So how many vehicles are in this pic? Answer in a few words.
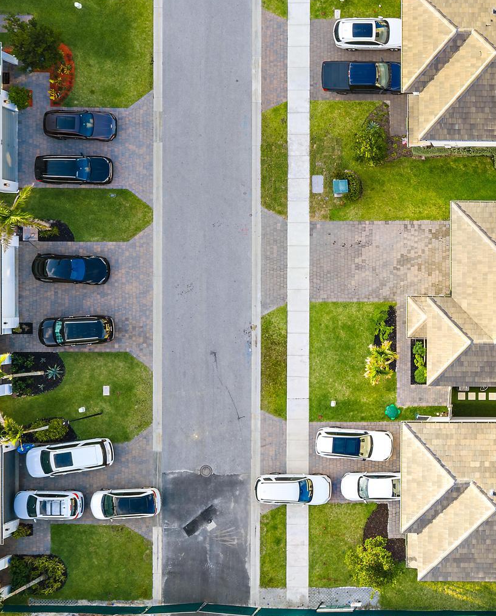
12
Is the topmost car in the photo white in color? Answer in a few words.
Yes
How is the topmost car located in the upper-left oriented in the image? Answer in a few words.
from left to right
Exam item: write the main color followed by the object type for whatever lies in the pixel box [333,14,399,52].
white car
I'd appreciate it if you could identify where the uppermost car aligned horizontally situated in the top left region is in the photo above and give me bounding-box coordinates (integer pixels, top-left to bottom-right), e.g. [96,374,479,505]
[43,107,122,142]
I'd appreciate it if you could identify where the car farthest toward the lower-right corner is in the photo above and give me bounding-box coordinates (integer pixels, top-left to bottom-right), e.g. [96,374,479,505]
[341,470,399,506]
